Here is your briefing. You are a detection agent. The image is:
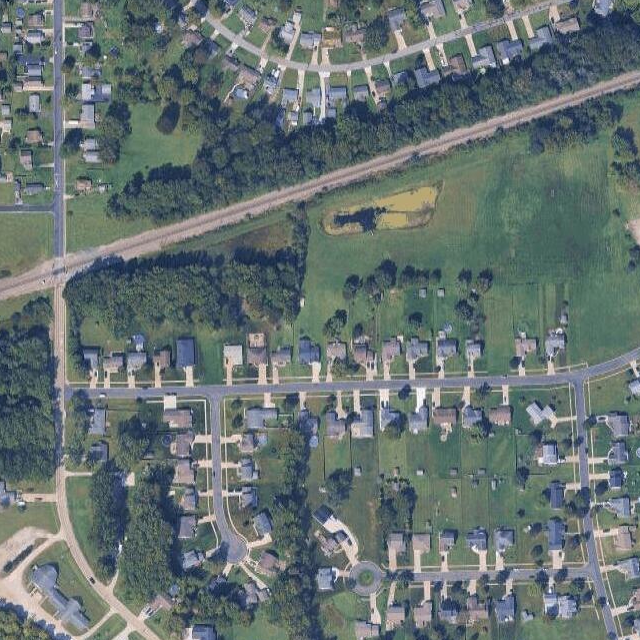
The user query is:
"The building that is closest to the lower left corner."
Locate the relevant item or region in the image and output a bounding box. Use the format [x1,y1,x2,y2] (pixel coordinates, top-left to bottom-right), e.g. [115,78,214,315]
[32,564,94,635]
